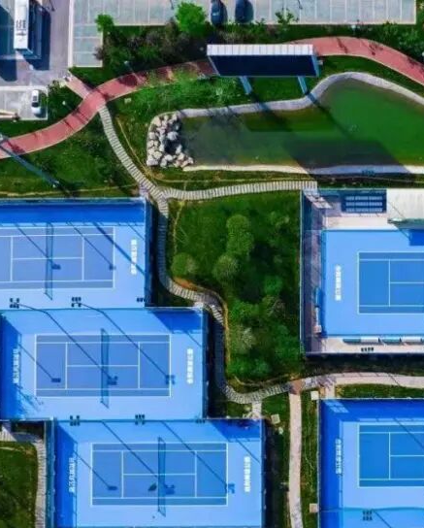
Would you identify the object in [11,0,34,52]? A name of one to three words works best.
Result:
bus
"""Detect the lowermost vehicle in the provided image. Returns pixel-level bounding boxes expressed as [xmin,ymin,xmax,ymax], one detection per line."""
[29,90,43,116]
